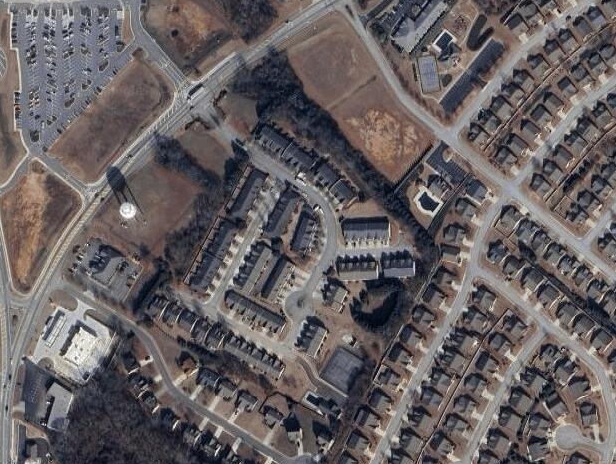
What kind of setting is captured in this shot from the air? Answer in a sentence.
This looks like a residential area.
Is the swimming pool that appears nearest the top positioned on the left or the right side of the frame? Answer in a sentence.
The swimming pool that appears nearest the top sits on the right side.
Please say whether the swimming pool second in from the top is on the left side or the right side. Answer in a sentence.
You can find the swimming pool second in from the top on the right side of the picture.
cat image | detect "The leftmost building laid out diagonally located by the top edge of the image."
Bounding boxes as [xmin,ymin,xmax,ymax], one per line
[385,0,449,55]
